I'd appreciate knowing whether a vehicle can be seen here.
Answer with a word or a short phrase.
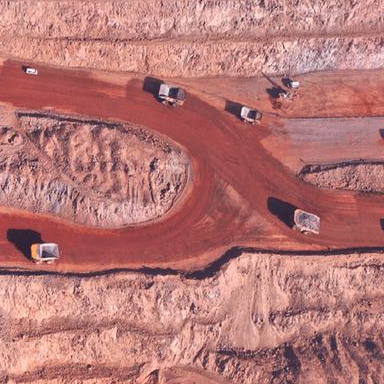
Yes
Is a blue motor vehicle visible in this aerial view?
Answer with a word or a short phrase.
No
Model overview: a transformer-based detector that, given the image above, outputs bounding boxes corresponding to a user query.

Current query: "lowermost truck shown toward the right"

[293,214,324,235]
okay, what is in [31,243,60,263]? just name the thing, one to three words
vehicle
